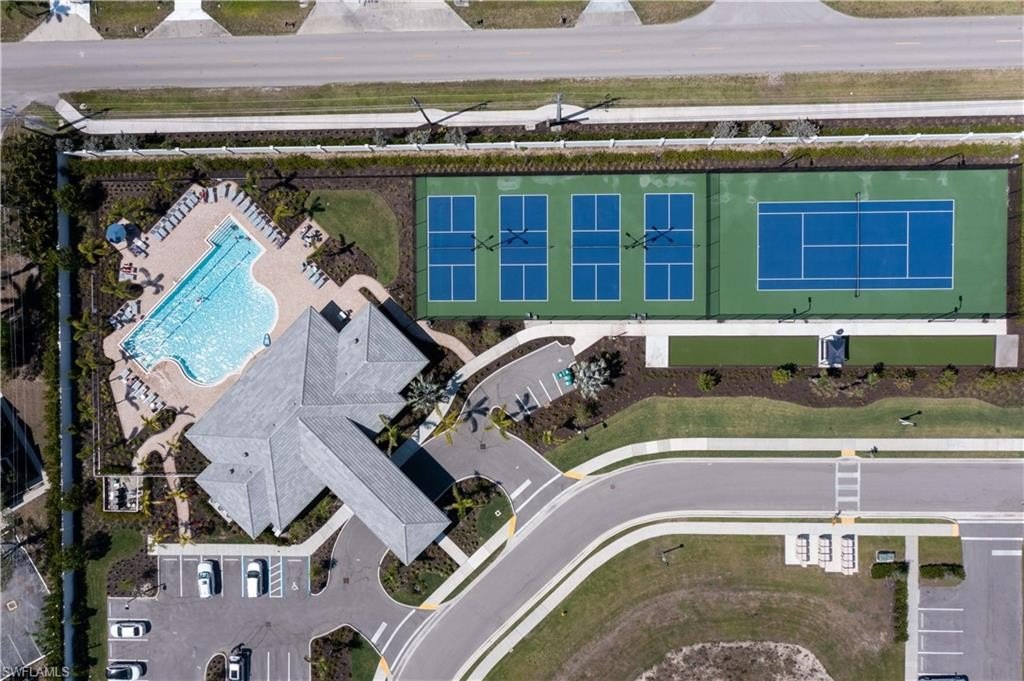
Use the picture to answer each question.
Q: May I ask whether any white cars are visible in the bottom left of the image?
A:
Yes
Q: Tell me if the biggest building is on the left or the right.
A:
left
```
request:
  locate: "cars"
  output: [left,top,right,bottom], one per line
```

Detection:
[228,658,246,681]
[110,622,144,639]
[244,560,263,598]
[196,560,217,598]
[104,663,141,681]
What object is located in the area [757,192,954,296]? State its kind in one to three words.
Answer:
tennis court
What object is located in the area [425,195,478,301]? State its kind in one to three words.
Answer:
sports court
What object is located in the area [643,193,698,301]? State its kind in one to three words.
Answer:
sports court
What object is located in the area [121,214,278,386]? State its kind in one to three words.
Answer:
swimming pool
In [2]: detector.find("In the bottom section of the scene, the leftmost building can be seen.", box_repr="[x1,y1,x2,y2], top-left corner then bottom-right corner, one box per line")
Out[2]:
[186,302,451,565]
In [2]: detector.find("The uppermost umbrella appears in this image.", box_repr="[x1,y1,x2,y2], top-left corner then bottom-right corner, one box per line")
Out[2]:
[108,225,129,244]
